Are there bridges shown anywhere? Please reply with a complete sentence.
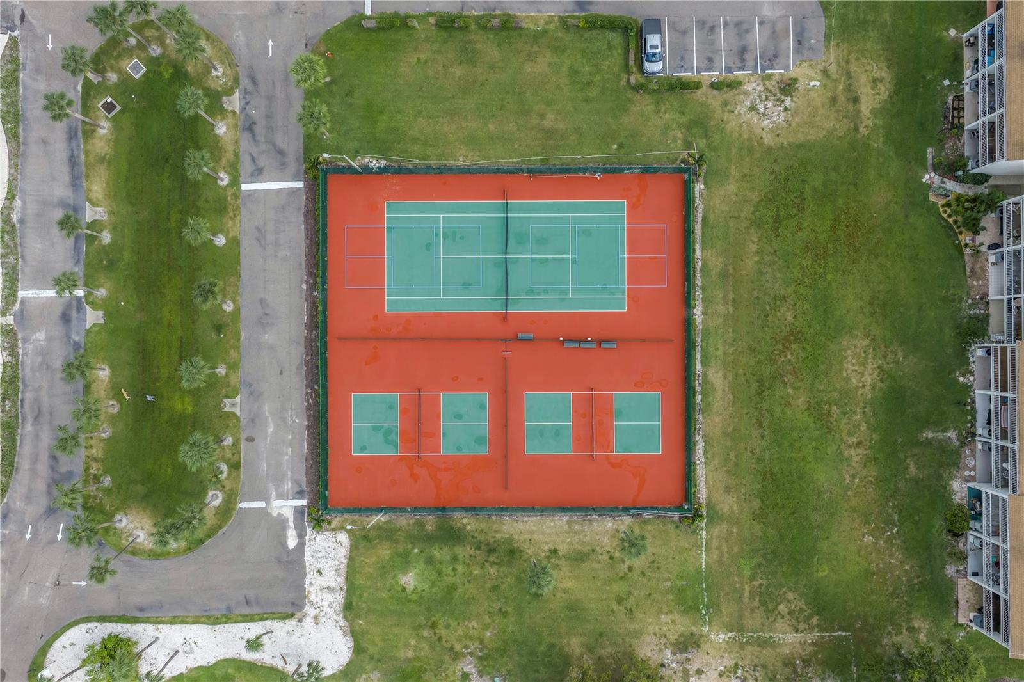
No, I can't see a single bridge in this photo.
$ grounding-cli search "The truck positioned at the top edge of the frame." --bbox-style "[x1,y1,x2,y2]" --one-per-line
[641,18,666,75]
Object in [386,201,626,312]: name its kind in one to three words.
tennis court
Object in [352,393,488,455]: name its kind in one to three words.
sports court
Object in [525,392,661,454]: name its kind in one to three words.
sports court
